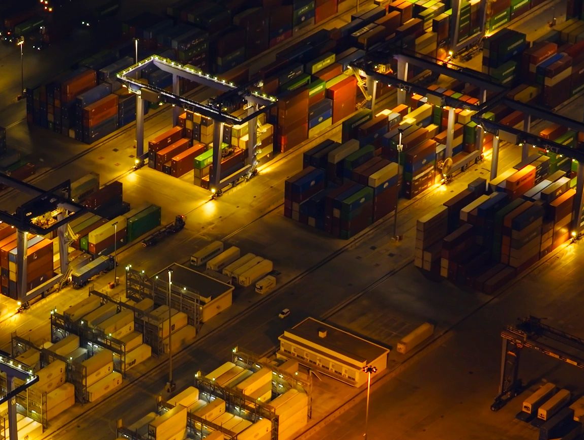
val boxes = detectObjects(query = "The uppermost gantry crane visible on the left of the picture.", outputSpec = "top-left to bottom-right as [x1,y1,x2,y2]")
[108,54,282,197]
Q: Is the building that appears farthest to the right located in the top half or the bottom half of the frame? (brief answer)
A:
bottom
